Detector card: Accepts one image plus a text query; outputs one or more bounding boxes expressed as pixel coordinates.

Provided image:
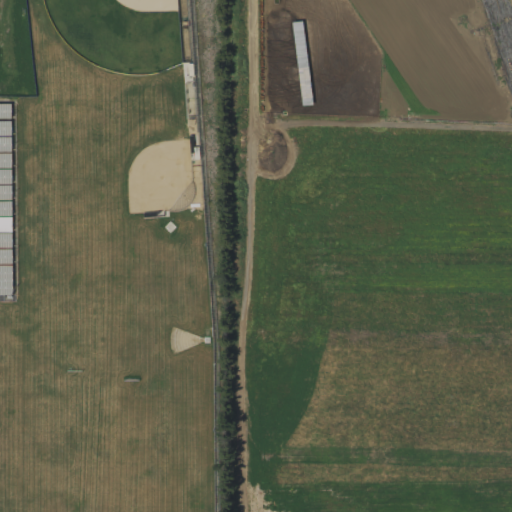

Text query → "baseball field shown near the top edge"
[45,0,183,74]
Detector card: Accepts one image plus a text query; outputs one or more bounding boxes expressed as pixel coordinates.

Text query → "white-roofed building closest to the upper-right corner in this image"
[293,20,313,105]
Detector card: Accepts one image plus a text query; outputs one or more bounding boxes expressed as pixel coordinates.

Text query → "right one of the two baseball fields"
[129,139,196,214]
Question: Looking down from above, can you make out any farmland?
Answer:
Yes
